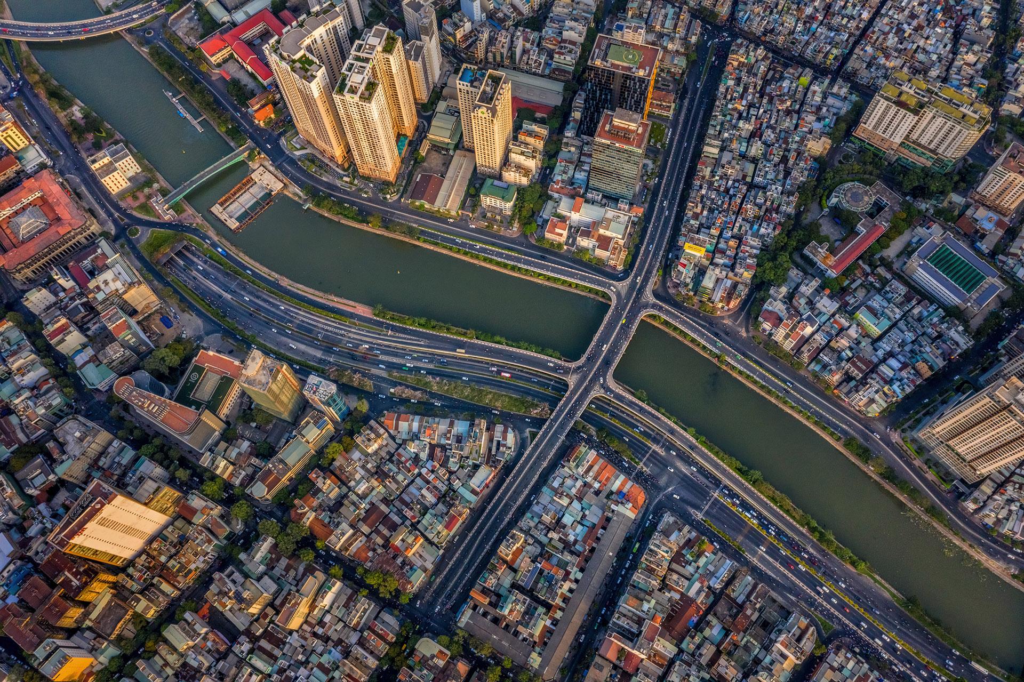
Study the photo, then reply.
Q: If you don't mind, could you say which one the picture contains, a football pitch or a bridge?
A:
bridge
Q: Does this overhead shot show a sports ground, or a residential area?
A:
residential area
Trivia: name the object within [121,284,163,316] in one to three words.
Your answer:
building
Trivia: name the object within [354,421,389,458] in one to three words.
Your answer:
house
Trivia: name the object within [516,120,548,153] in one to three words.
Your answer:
house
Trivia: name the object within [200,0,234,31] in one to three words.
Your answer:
shed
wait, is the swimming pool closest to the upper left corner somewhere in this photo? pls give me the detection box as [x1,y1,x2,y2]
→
[396,132,411,166]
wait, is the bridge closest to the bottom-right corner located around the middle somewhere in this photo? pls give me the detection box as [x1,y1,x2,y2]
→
[372,95,845,612]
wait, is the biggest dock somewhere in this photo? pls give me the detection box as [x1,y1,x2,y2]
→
[161,89,205,133]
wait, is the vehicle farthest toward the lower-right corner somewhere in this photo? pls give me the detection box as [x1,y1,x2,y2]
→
[968,659,997,678]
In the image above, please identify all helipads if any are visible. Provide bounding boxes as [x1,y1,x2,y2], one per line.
[607,44,642,67]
